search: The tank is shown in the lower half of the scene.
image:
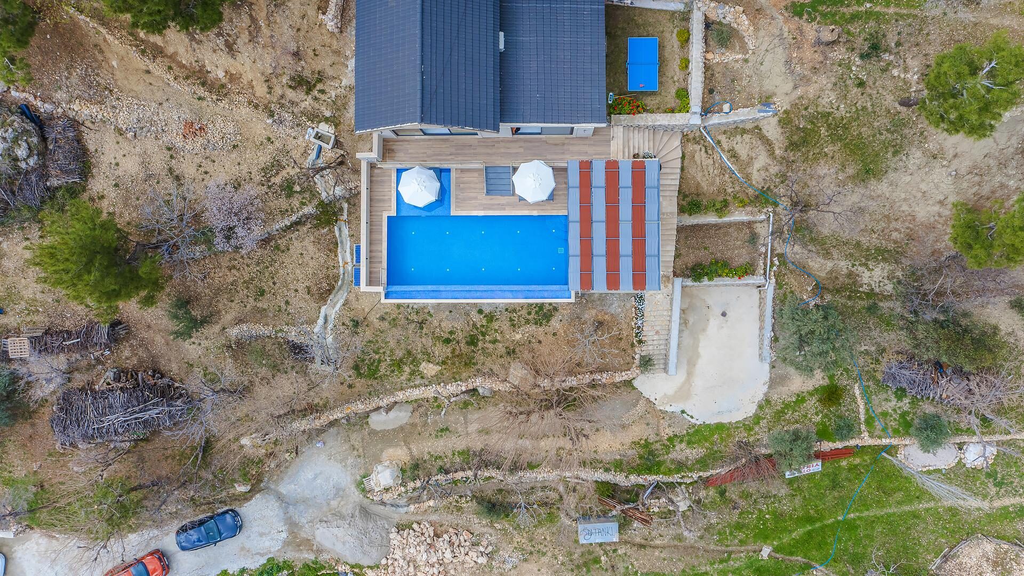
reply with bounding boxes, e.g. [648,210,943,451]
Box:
[577,516,619,544]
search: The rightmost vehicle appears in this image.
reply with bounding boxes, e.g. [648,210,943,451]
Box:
[175,505,249,550]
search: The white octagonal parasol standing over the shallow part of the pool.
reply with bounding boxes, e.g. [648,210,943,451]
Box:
[400,167,442,210]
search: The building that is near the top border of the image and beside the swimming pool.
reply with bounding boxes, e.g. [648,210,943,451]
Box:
[354,0,608,139]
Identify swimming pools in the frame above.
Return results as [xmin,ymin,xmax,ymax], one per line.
[381,169,575,303]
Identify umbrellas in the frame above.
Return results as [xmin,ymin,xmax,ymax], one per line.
[512,161,555,205]
[400,167,442,210]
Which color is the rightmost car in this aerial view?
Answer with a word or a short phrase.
blue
